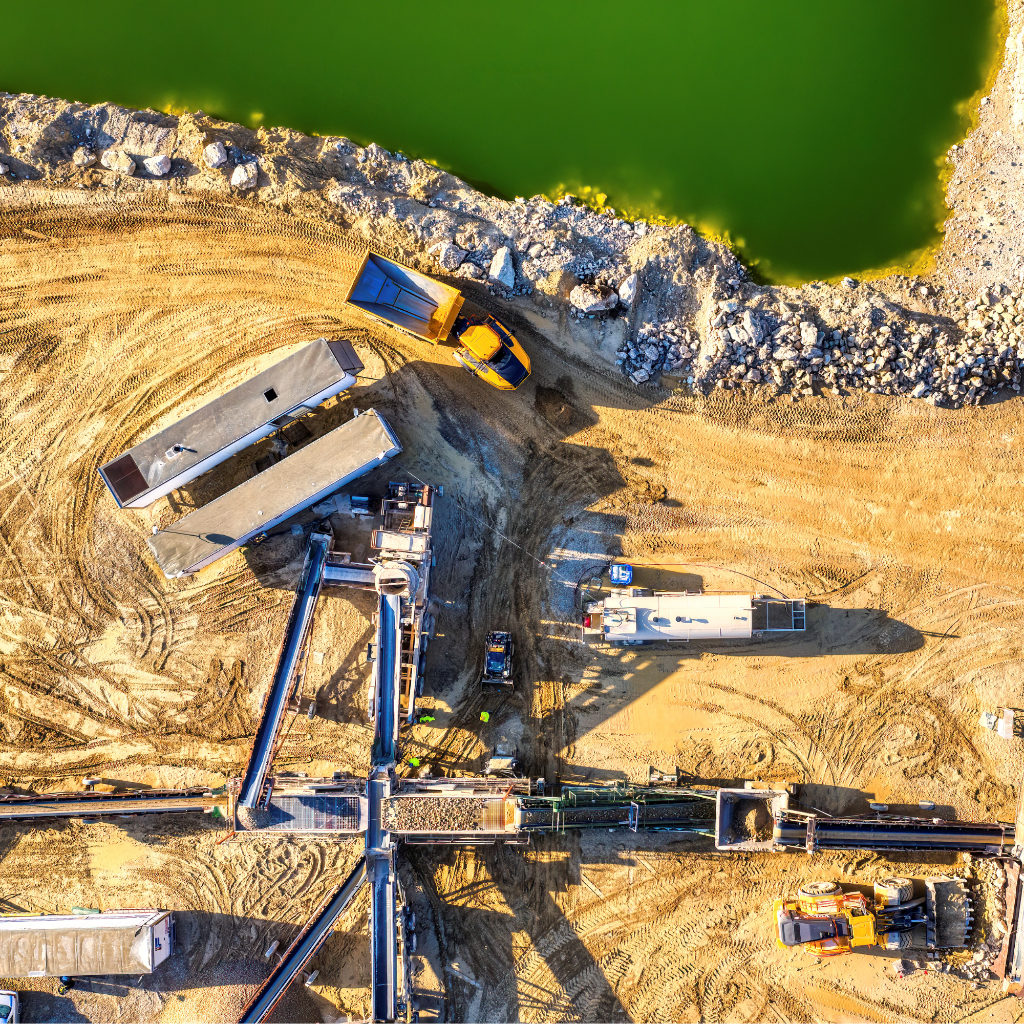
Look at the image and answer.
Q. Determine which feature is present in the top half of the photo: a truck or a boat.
truck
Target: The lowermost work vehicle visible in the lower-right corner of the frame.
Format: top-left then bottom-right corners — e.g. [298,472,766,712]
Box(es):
[769,875,971,957]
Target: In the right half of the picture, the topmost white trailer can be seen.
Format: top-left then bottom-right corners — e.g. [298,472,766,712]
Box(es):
[581,587,806,645]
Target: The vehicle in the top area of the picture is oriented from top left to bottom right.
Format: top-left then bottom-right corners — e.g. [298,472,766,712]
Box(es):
[346,251,530,396]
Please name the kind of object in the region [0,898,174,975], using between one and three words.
trailer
